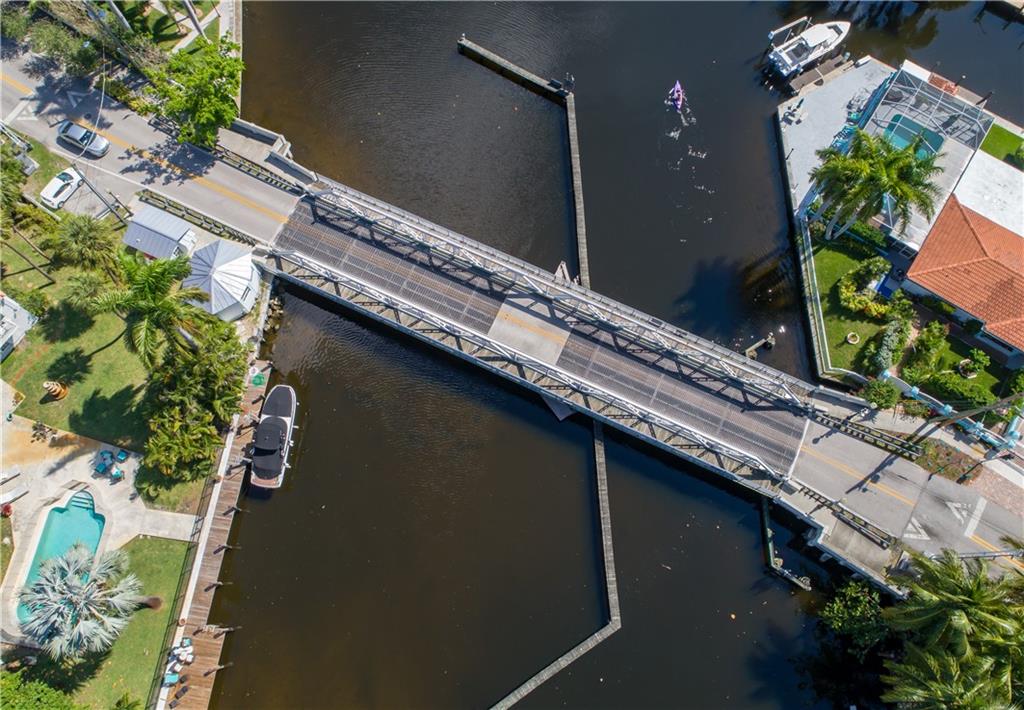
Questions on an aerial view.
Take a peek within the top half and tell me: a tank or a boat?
boat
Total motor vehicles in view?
two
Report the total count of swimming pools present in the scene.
two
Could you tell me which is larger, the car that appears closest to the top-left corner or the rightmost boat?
the boat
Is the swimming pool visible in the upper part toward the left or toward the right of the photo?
right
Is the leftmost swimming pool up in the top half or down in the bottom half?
bottom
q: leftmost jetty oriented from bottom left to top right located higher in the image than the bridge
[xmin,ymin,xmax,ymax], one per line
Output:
[790,51,851,96]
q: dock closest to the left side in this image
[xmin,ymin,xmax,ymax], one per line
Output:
[160,357,274,710]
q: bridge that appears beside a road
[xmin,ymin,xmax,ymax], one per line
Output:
[253,168,879,519]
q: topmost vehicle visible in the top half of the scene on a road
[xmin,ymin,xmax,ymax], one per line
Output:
[56,123,110,157]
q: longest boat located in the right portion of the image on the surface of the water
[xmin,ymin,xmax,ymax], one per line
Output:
[767,22,850,82]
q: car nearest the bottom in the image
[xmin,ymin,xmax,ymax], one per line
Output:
[37,170,87,208]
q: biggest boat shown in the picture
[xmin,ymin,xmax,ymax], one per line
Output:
[247,385,297,487]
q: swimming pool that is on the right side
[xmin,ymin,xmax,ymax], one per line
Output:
[882,112,946,161]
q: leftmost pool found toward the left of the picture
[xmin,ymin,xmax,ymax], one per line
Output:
[14,489,107,628]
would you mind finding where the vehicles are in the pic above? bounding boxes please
[37,170,87,208]
[56,123,110,157]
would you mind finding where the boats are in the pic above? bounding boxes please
[675,80,682,110]
[247,385,297,487]
[767,22,850,82]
